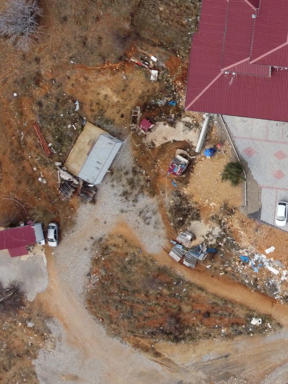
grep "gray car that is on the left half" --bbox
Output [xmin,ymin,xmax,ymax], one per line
[46,222,61,246]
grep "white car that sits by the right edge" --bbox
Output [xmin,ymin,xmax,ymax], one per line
[274,200,288,226]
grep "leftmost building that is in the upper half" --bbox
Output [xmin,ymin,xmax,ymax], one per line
[64,122,127,184]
